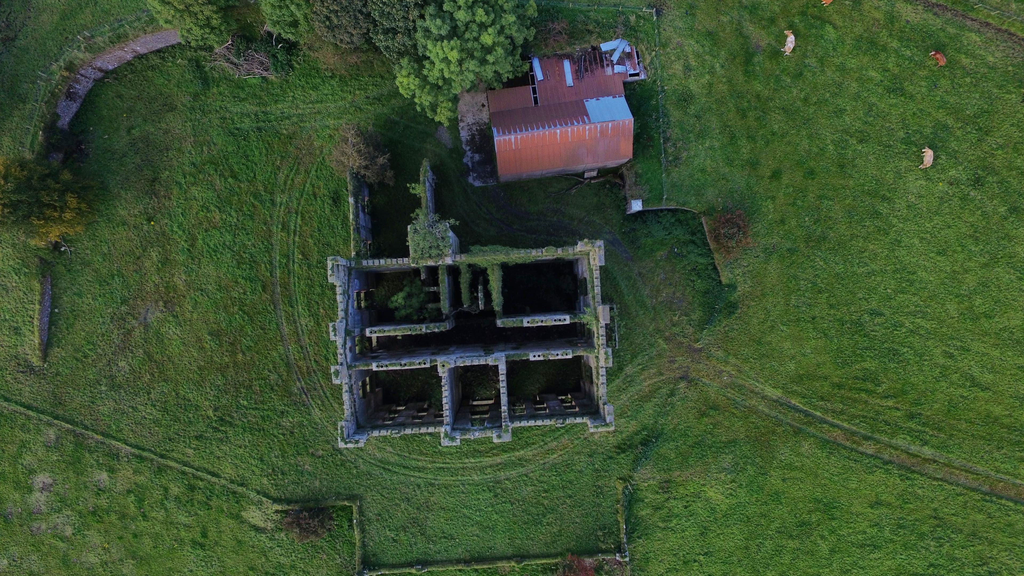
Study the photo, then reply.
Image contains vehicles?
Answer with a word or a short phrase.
No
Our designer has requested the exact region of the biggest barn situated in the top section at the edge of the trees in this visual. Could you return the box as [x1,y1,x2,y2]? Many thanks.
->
[489,47,634,181]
